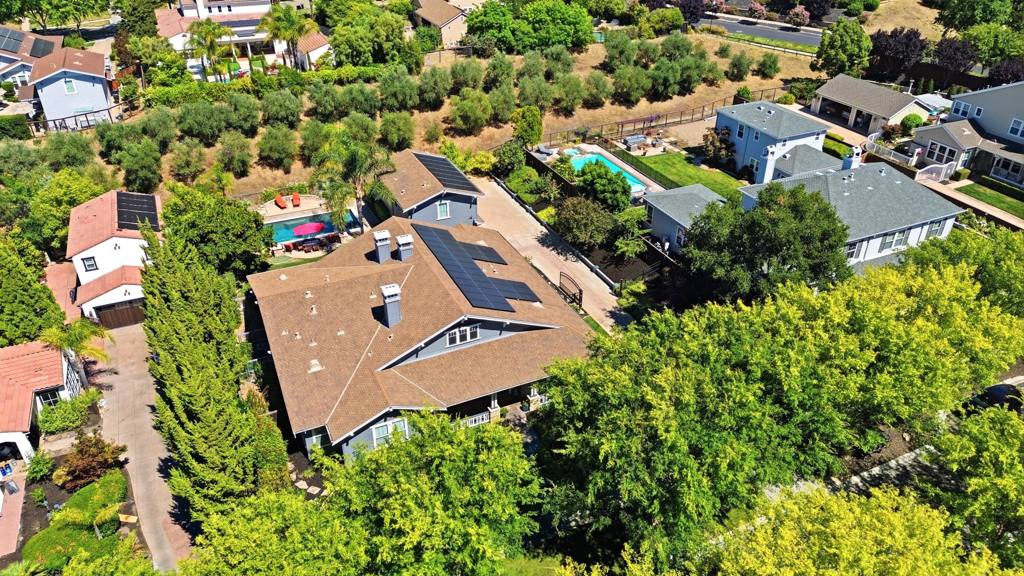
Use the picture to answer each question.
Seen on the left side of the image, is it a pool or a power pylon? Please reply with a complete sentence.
There is a pool on the left side of the image.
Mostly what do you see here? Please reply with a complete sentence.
The bulk of the photo consists of trees.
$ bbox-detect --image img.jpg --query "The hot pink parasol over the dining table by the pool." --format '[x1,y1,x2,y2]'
[291,220,324,247]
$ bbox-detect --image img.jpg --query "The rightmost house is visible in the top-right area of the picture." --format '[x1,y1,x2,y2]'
[911,82,1024,190]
